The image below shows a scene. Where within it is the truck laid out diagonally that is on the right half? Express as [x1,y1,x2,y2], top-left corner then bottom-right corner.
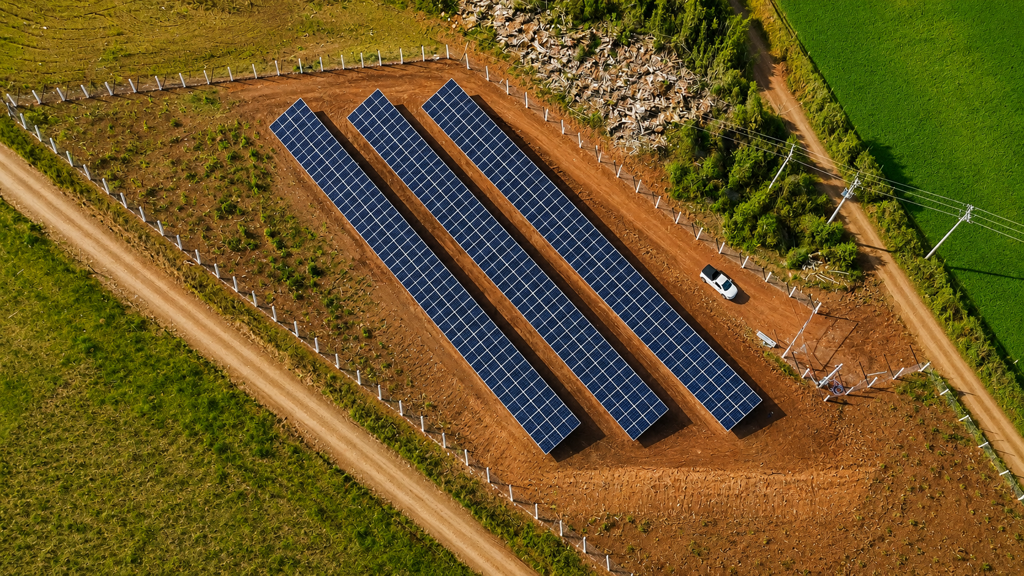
[698,263,739,300]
